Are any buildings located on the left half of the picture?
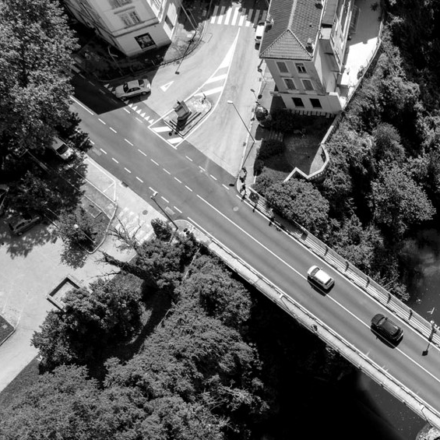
Yes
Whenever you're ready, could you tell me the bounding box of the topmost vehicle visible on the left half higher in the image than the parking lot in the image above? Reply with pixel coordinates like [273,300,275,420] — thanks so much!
[112,78,151,100]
